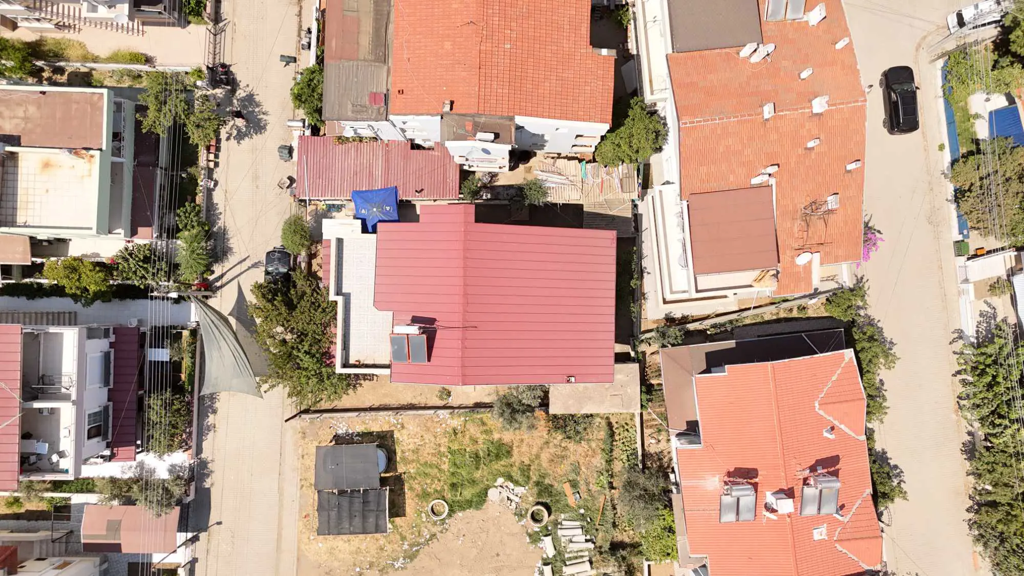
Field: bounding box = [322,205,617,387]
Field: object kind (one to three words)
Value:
house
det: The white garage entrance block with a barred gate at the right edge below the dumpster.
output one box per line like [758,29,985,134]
[948,250,1017,284]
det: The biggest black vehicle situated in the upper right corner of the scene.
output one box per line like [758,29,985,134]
[876,69,918,138]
